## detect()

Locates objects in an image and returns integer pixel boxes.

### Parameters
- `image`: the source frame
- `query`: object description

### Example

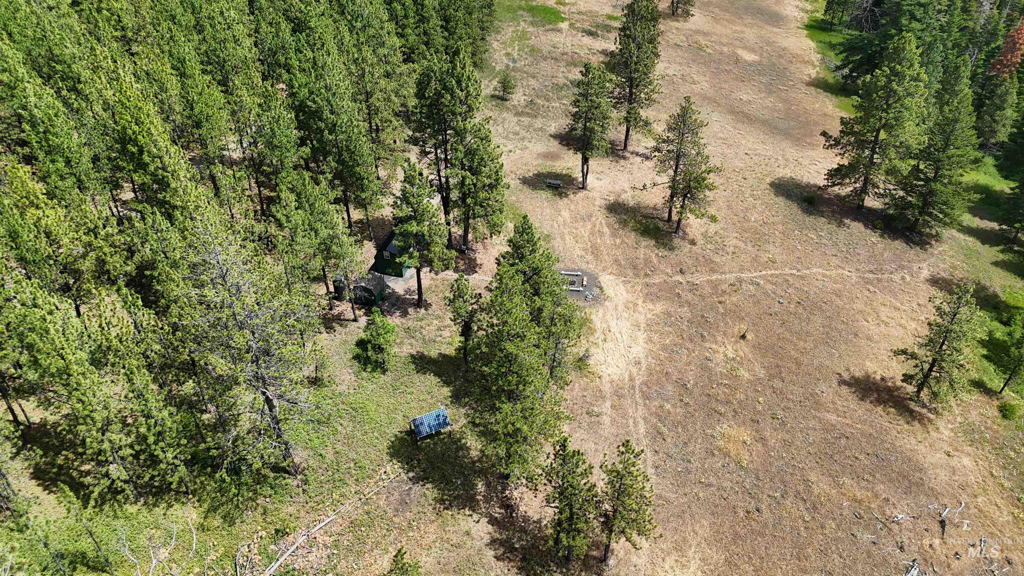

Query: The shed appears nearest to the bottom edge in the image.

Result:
[350,268,388,305]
